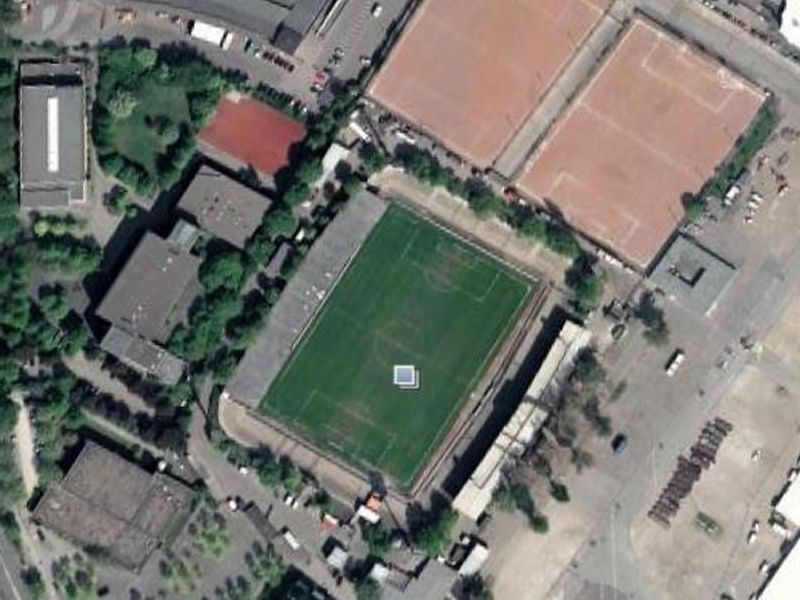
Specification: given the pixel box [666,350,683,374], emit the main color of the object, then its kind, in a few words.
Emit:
white vehicle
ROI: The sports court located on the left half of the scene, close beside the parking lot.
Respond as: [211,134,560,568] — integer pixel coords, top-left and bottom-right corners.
[199,95,305,179]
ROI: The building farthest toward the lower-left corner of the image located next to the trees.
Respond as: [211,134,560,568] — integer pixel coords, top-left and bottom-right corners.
[32,441,198,573]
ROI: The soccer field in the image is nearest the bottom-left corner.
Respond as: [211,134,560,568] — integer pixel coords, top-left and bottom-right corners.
[259,203,539,494]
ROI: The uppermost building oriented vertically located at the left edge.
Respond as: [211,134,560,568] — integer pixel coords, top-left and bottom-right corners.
[20,62,89,209]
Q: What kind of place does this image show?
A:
sports ground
